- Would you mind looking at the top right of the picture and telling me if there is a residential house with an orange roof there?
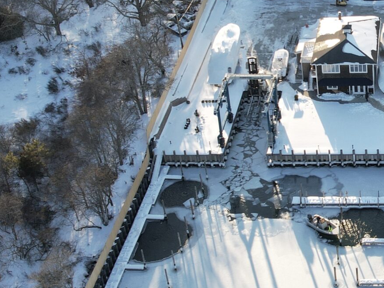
No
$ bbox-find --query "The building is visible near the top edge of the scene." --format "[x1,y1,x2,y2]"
[292,6,378,100]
